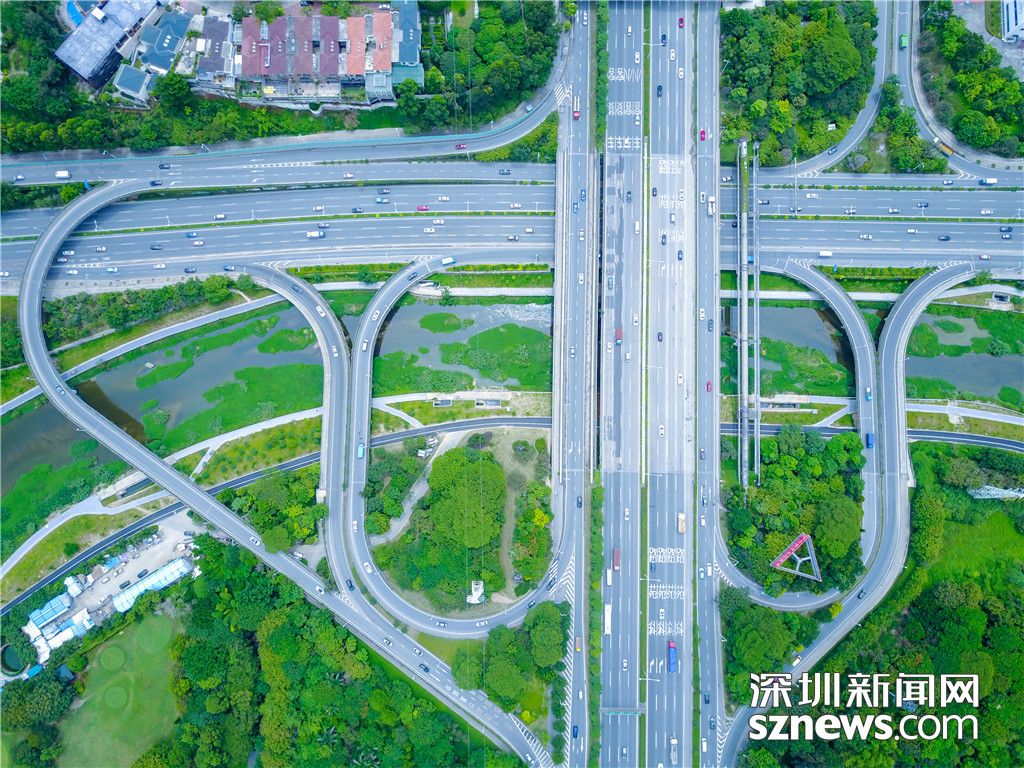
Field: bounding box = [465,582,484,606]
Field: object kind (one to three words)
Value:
pylon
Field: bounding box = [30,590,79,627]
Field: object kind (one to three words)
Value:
shed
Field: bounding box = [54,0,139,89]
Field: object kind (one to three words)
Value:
building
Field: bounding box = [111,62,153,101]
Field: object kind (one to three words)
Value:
house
